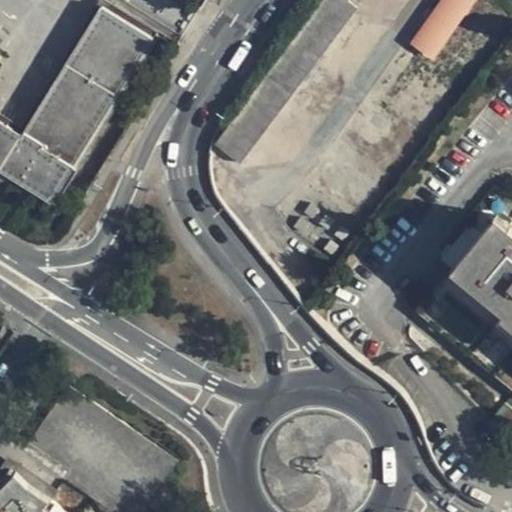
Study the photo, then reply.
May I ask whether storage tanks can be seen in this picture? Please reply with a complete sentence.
No, the photo shows no storage tank.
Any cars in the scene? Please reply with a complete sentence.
Yes, there's a car here.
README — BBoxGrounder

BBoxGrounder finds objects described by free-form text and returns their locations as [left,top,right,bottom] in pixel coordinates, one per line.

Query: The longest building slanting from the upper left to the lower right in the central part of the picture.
[294,215,324,240]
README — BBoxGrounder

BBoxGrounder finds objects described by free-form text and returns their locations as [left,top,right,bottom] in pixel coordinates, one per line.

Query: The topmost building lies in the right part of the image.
[410,0,476,60]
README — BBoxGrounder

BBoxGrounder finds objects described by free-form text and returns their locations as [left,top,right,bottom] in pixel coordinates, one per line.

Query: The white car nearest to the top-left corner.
[178,64,198,86]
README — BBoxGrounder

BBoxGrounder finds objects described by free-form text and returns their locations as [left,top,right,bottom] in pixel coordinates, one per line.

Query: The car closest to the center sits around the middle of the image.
[246,268,266,288]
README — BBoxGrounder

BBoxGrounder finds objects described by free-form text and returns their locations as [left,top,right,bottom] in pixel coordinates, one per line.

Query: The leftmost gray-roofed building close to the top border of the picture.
[21,4,156,168]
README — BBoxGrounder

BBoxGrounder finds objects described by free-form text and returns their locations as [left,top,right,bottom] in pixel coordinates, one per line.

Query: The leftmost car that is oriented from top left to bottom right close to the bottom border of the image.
[414,472,435,492]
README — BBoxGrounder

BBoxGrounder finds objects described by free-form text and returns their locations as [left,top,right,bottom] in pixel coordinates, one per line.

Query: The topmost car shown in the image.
[257,4,275,24]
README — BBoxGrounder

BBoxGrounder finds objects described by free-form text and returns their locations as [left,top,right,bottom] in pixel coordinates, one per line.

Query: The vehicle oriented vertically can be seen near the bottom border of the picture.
[382,446,398,487]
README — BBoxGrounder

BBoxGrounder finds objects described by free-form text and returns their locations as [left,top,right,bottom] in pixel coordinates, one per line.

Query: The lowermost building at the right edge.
[474,320,512,376]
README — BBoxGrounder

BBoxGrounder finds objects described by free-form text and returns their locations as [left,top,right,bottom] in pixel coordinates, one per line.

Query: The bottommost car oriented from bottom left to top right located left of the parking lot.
[253,416,271,434]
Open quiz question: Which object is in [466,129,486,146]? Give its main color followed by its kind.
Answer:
white car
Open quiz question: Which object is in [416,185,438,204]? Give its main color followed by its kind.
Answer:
black car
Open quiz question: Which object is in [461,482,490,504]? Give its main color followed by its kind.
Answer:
white truck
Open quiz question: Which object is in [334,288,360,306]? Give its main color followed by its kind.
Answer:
white vehicle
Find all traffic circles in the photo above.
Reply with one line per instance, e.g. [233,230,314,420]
[258,408,376,512]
